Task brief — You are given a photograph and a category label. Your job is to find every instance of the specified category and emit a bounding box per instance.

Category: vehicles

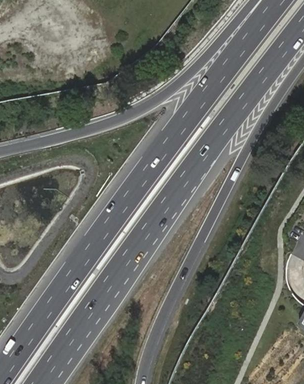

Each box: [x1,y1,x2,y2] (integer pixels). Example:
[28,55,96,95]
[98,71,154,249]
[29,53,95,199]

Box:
[70,279,80,290]
[150,158,160,168]
[292,226,304,235]
[136,252,144,263]
[4,338,16,354]
[14,345,24,356]
[4,377,12,384]
[292,38,304,52]
[158,218,168,228]
[200,76,208,86]
[200,145,210,156]
[230,167,242,183]
[87,300,96,310]
[180,268,188,280]
[141,376,146,384]
[290,232,300,240]
[106,202,116,212]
